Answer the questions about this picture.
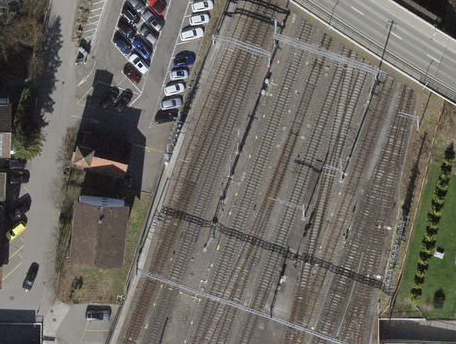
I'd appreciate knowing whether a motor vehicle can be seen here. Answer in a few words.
Yes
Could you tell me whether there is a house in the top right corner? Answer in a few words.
No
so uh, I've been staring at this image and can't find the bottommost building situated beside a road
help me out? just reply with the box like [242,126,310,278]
[0,323,42,344]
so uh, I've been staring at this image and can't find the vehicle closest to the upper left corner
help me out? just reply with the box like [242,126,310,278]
[76,40,89,62]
